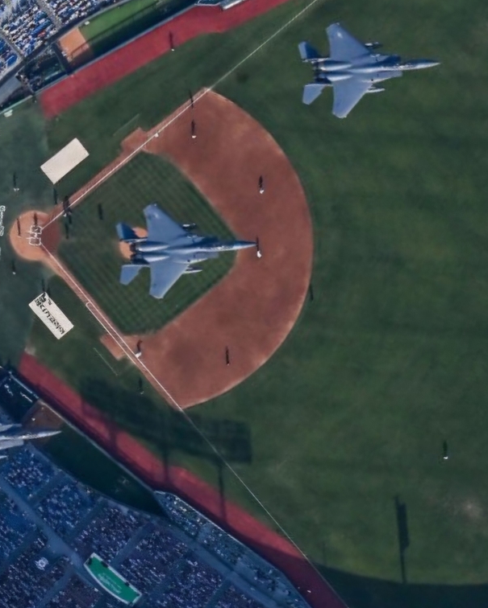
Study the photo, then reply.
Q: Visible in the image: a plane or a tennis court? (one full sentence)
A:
There is a plane in the scene.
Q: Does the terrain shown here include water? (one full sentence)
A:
No, the scene doesn't show any water.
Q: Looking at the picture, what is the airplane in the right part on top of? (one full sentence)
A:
The airplane in the right part is on the grass.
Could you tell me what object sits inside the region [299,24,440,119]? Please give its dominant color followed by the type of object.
blue airplane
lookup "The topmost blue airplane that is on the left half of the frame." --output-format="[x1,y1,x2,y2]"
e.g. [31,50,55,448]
[115,206,254,300]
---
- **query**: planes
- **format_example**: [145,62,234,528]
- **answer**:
[299,24,440,119]
[115,206,254,300]
[0,422,61,464]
